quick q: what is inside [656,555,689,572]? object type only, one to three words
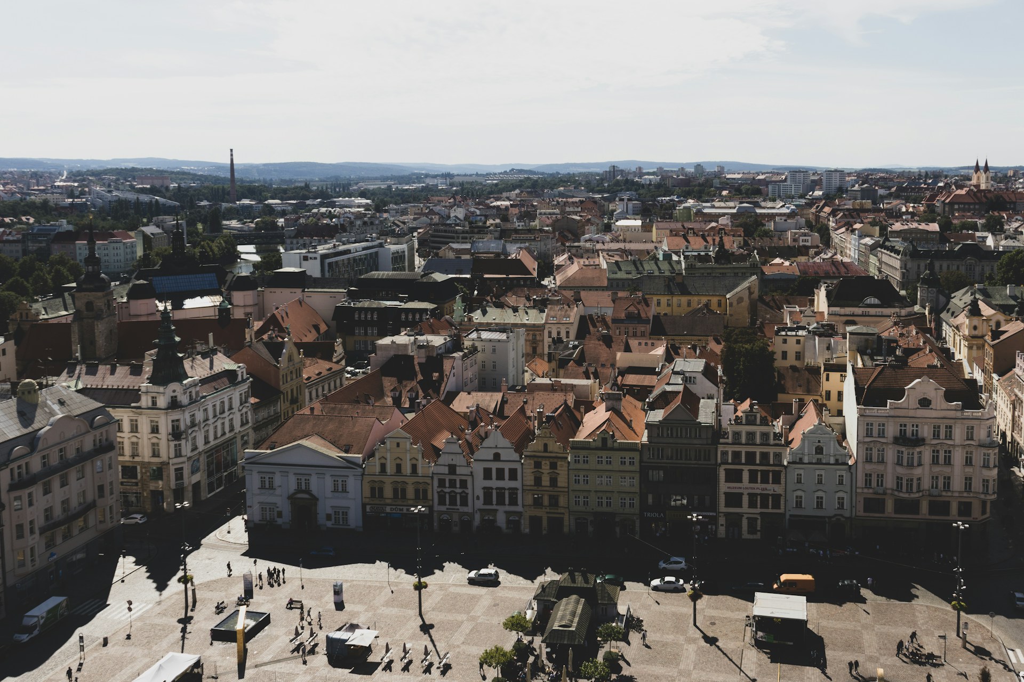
car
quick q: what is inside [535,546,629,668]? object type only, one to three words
building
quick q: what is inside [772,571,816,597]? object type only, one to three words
vehicle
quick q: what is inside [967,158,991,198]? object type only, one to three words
building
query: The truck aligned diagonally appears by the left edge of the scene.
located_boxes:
[16,589,77,640]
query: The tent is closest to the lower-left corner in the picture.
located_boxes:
[129,649,202,682]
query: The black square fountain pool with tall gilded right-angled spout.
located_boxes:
[211,608,275,665]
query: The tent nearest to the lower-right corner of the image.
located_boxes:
[741,593,810,648]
